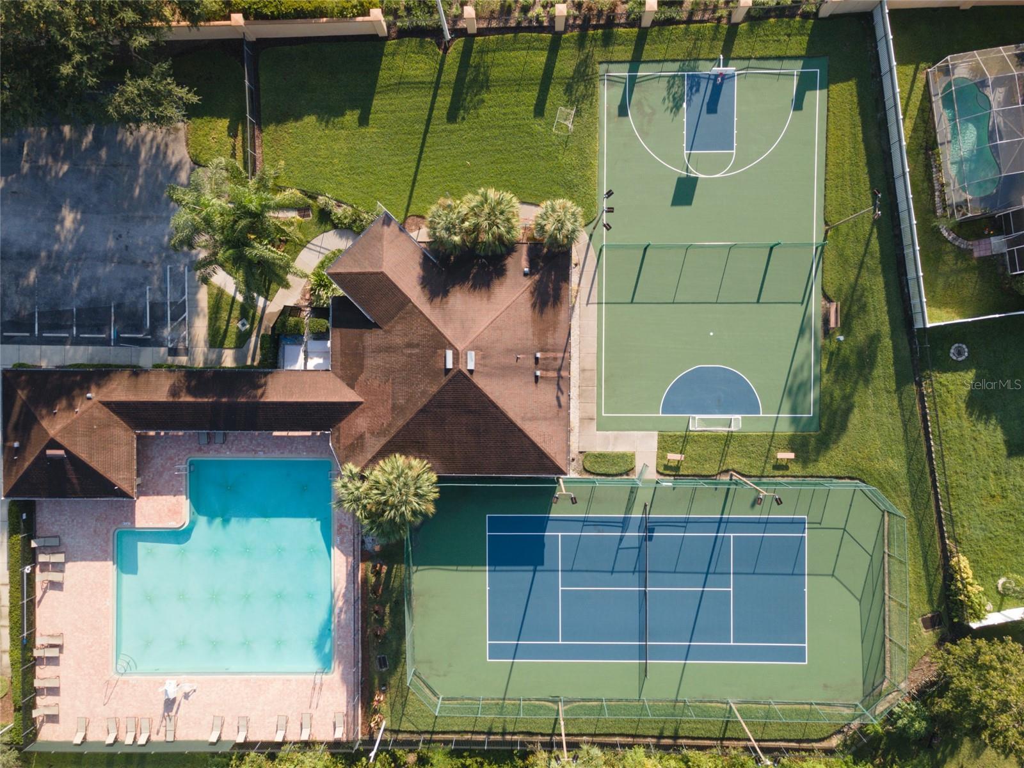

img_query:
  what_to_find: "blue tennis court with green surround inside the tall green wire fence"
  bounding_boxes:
[413,477,887,699]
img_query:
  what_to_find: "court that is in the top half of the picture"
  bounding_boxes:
[585,57,829,431]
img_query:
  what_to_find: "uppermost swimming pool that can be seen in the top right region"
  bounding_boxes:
[940,74,1004,200]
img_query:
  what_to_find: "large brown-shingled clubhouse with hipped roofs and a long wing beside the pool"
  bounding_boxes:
[1,203,572,500]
